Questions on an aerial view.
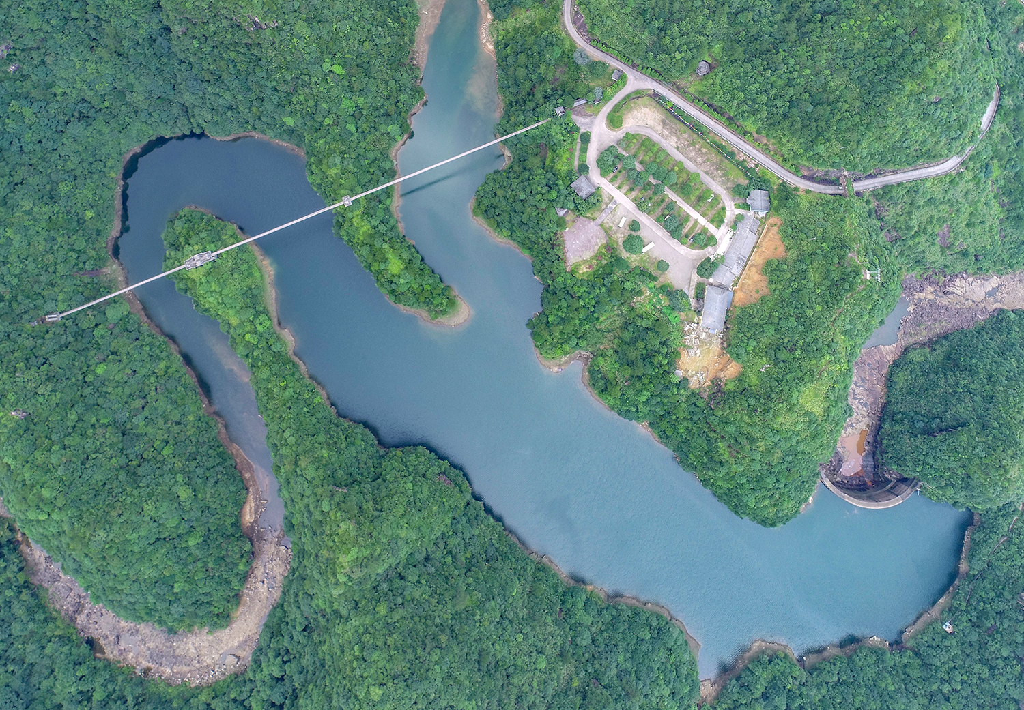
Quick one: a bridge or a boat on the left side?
bridge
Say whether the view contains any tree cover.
Yes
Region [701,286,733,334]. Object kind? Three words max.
building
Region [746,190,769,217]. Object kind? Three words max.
house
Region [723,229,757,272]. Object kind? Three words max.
building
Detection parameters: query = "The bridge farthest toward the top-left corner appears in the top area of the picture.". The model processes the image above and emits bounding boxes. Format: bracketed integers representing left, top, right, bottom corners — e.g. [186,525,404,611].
[47,110,555,319]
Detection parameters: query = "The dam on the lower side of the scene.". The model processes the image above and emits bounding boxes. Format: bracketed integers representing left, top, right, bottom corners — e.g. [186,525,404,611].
[808,463,920,509]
